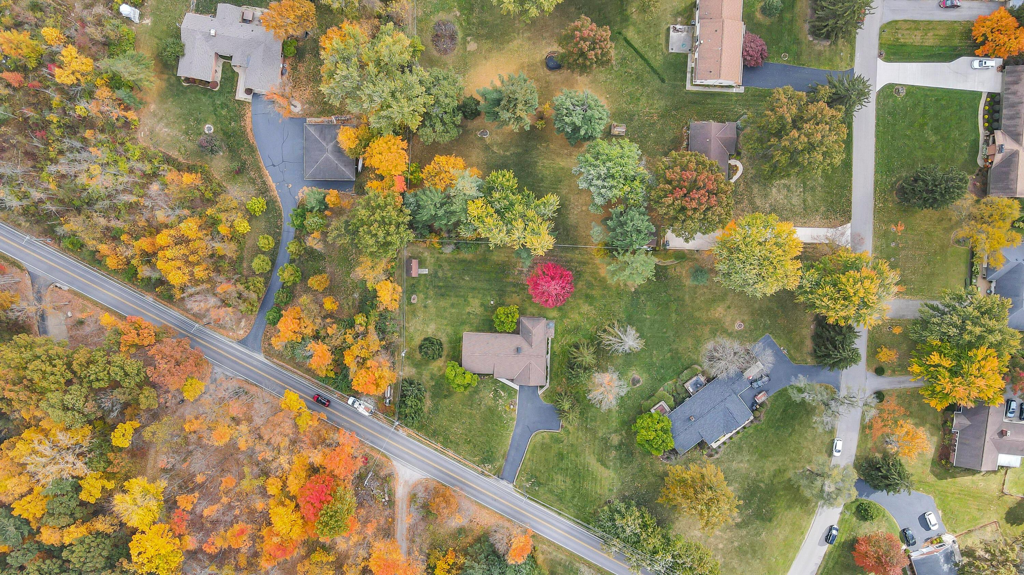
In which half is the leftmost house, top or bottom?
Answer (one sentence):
The leftmost house is in the top half of the image.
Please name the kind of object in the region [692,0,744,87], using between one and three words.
house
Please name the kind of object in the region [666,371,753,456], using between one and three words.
house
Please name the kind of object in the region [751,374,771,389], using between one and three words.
vehicle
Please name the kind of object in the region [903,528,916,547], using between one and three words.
vehicle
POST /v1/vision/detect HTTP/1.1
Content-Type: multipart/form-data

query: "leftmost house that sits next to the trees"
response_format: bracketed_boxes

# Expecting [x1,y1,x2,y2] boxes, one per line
[177,3,283,93]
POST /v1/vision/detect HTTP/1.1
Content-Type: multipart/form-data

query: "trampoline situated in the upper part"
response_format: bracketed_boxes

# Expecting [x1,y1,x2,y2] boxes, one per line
[545,53,562,71]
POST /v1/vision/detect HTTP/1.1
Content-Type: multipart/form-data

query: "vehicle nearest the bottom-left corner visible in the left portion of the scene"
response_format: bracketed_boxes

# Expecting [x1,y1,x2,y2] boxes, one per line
[313,394,331,408]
